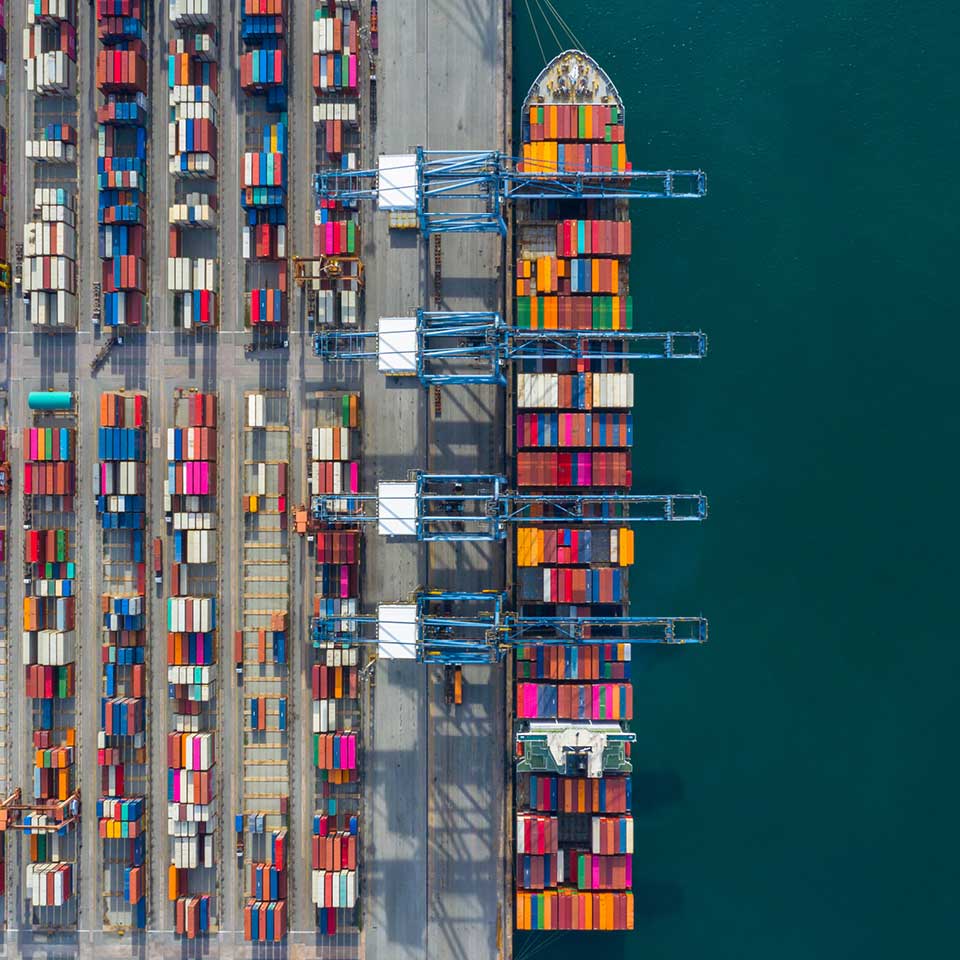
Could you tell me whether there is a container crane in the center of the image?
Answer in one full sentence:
Yes, in the center of the image there is a container crane.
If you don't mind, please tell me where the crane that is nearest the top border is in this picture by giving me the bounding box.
[311,147,708,257]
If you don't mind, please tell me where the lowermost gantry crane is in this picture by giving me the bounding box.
[0,789,82,831]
